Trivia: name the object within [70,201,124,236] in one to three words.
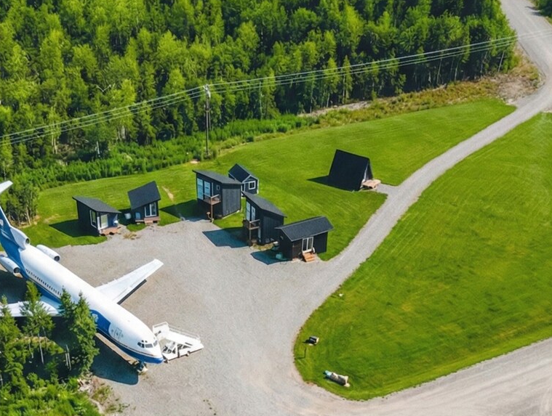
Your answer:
building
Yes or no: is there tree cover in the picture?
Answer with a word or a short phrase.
Yes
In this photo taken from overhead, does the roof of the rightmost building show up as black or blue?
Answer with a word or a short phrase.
black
